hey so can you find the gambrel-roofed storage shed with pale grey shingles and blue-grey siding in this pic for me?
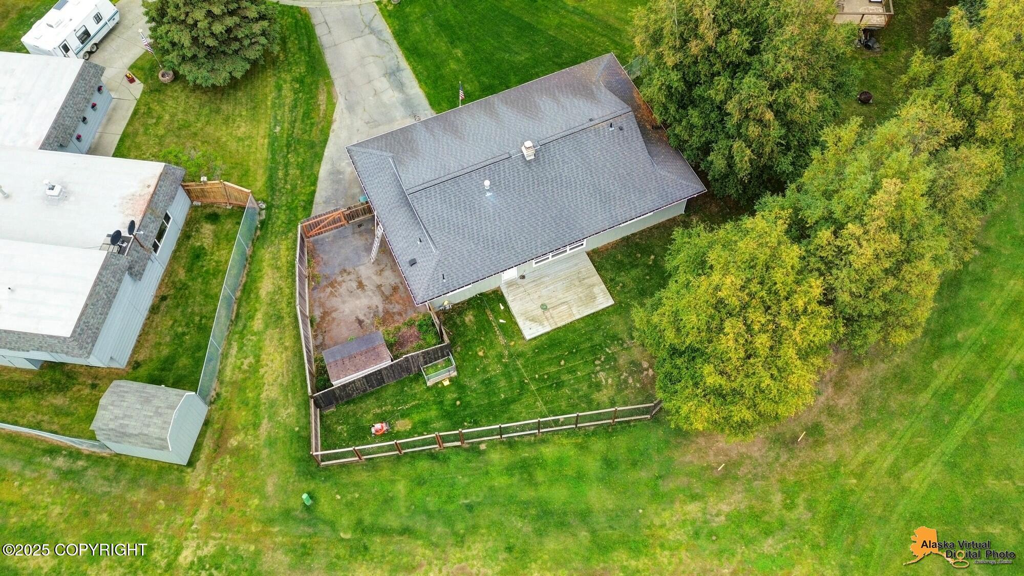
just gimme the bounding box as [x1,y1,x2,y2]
[87,380,207,465]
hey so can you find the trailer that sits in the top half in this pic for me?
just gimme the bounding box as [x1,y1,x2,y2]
[25,0,123,60]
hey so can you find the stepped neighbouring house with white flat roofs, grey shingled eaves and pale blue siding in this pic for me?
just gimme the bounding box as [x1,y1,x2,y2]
[0,51,191,370]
